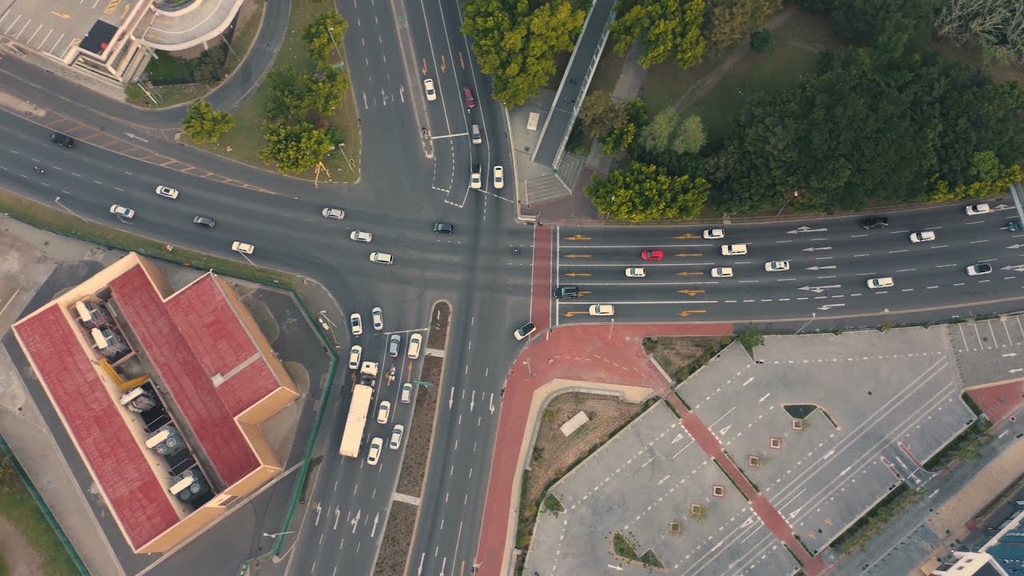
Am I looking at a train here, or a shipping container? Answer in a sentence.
There is a shipping container in the scene.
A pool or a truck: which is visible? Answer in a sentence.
There is a truck in the scene.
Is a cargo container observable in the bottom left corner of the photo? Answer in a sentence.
No, I can find no cargo container in the bottom left corner of the photo.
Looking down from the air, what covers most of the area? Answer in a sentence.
Most of the picture is covered by paved ground.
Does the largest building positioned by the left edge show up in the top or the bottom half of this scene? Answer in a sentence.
The largest building positioned by the left edge is in the bottom half of the image.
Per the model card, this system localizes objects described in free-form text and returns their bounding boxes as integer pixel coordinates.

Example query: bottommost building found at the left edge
[12,253,298,554]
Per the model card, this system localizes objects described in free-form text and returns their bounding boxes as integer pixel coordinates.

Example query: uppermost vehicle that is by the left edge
[47,133,76,150]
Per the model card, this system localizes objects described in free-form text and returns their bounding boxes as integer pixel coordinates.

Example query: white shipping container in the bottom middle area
[559,409,590,436]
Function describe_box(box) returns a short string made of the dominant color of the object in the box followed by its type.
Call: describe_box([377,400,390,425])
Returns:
white vehicle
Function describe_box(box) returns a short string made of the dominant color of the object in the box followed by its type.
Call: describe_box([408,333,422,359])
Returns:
white vehicle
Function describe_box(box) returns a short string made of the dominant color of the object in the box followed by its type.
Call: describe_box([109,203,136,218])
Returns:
white car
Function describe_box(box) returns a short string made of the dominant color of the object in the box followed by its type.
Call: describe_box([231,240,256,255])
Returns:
white car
